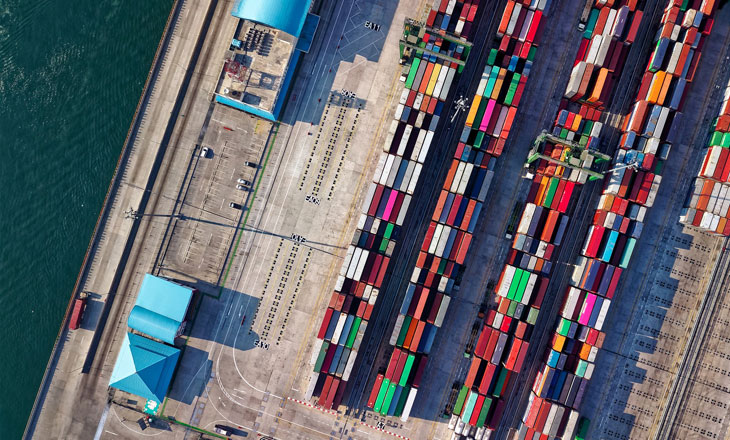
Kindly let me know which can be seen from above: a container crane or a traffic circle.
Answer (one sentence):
It is a container crane that can be seen here.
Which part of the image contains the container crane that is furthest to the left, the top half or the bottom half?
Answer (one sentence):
It is in the top half that the container crane that is furthest to the left appears.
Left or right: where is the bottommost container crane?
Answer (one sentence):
The bottommost container crane sits on the right side.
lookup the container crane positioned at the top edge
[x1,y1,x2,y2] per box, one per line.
[395,16,478,85]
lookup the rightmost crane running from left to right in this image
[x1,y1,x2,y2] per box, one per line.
[518,130,617,187]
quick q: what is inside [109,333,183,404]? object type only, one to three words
building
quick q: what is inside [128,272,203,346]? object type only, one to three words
building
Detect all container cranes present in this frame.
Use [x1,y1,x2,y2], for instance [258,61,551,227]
[395,16,478,85]
[518,130,617,187]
